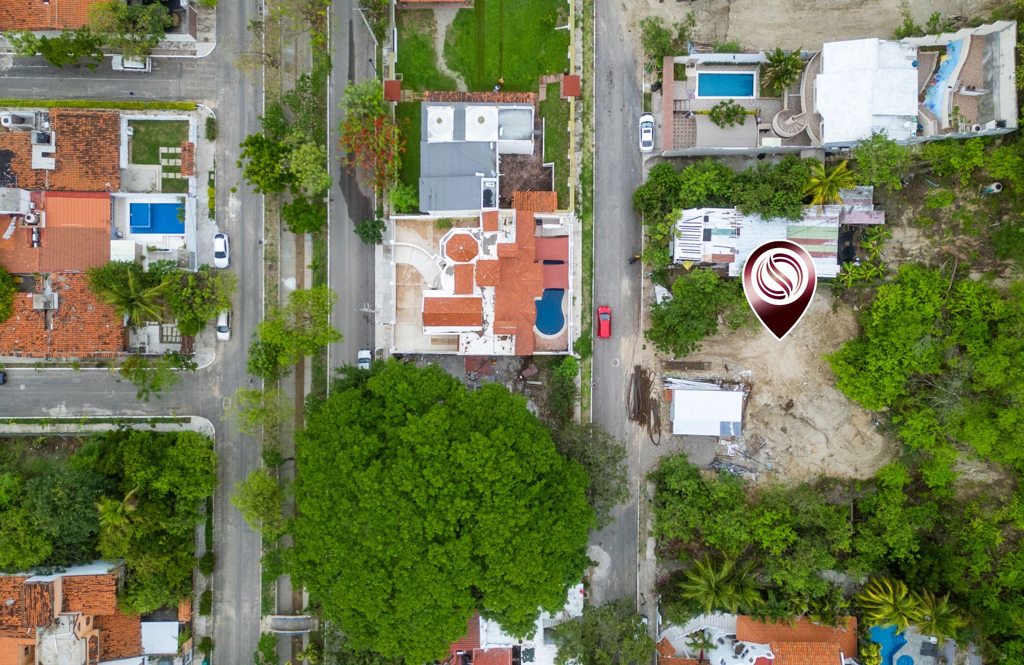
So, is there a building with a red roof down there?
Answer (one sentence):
Yes, there's a building with a red roof here.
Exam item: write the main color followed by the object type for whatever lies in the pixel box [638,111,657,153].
white car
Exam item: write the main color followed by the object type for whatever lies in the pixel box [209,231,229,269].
white car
